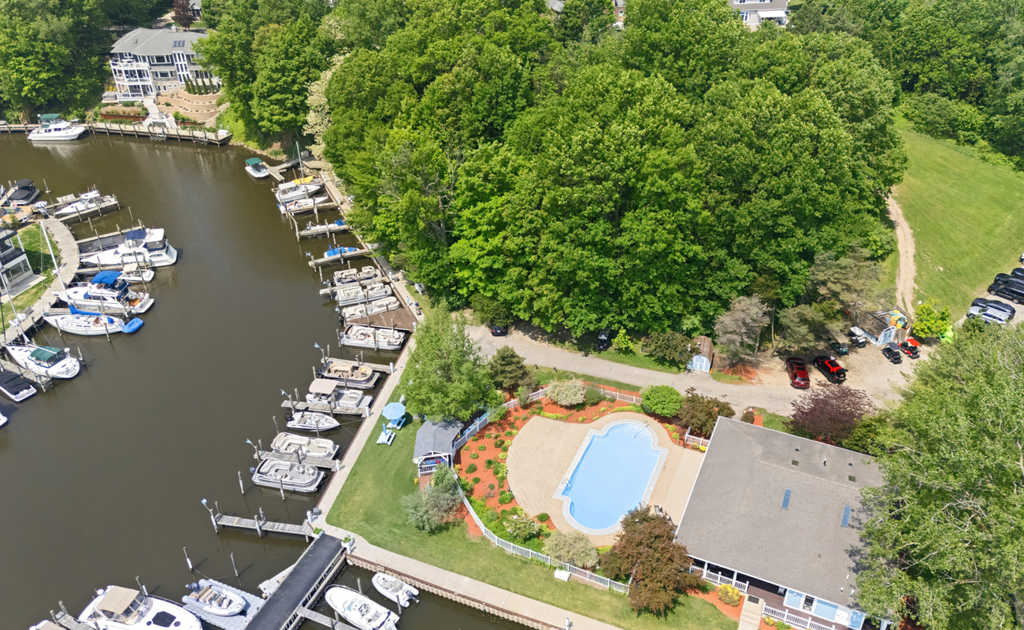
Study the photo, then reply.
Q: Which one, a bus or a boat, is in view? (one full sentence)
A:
It is a boat that can be seen here.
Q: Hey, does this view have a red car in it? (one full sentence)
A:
Yes, there is a red car in the image.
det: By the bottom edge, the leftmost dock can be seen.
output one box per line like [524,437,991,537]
[46,594,106,630]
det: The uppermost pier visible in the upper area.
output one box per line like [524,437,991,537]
[0,123,230,153]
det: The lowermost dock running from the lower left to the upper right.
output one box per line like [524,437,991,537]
[244,539,346,630]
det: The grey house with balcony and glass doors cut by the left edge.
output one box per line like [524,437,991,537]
[0,224,34,293]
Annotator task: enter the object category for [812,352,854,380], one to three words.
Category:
car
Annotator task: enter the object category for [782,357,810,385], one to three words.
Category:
car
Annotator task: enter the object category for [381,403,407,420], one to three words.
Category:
umbrella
